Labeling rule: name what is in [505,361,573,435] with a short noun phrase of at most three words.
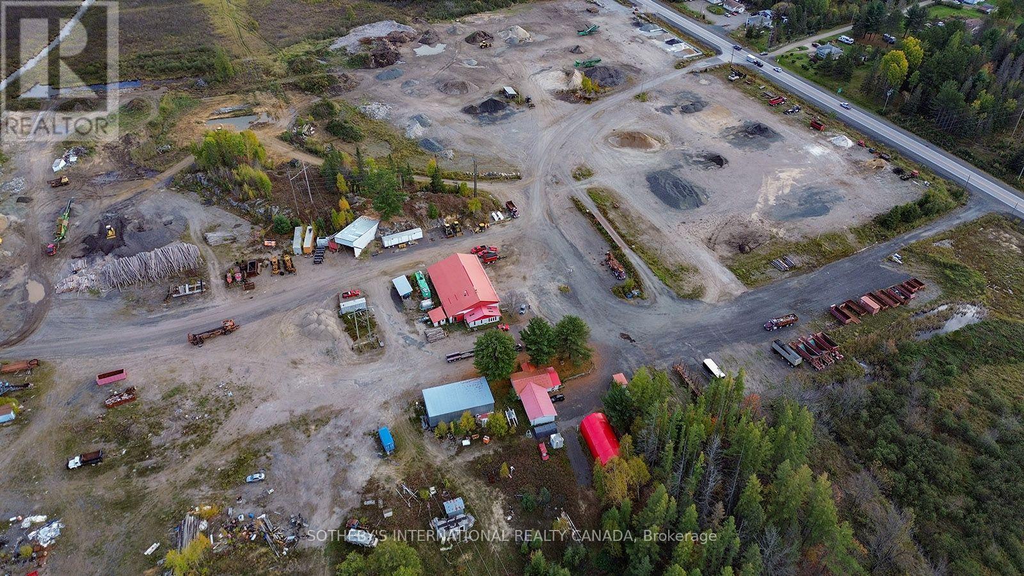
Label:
house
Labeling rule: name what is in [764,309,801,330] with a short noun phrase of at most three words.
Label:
truck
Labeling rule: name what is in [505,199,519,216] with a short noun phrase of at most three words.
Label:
vehicle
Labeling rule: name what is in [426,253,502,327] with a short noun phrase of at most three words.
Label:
building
